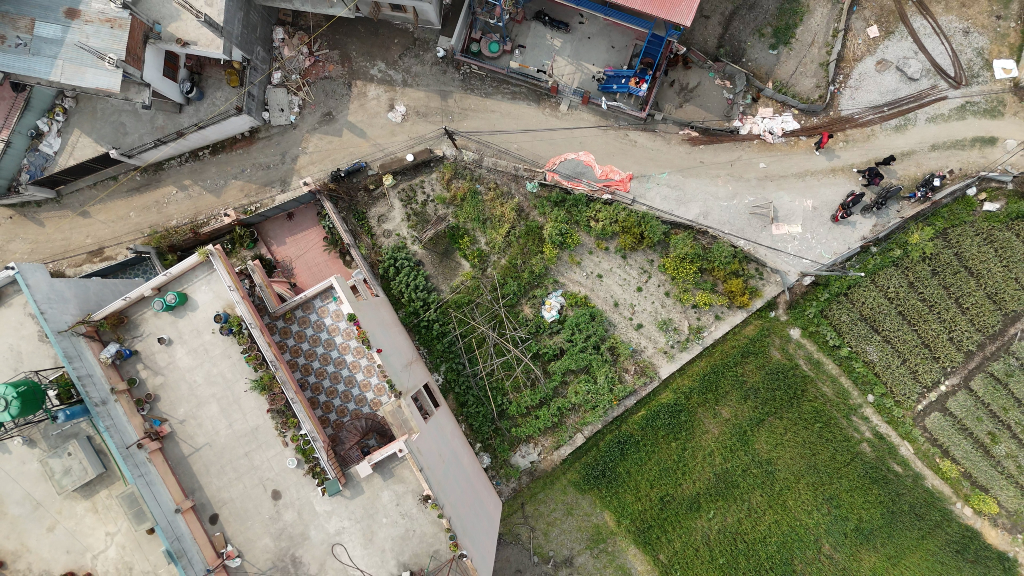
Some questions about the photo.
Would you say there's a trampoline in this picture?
No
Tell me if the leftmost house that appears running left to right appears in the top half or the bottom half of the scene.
top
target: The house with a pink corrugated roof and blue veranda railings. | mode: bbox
[542,0,700,102]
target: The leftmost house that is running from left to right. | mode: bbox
[0,0,277,114]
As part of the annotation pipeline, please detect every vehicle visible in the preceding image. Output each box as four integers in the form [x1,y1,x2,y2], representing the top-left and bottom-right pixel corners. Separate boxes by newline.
[531,2,570,34]
[905,171,950,199]
[861,184,905,211]
[830,189,866,222]
[328,158,368,181]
